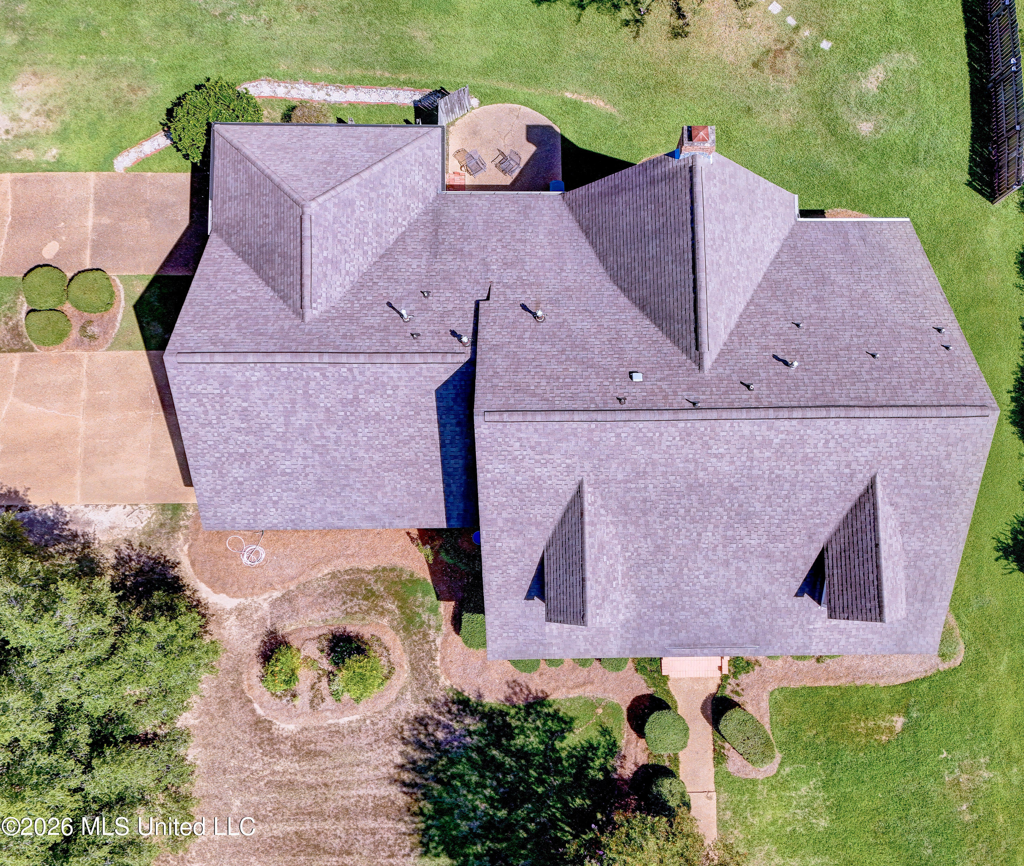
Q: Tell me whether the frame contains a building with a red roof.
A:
No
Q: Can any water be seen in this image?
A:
No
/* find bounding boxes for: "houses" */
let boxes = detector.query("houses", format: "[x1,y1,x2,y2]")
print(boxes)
[164,120,1000,661]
